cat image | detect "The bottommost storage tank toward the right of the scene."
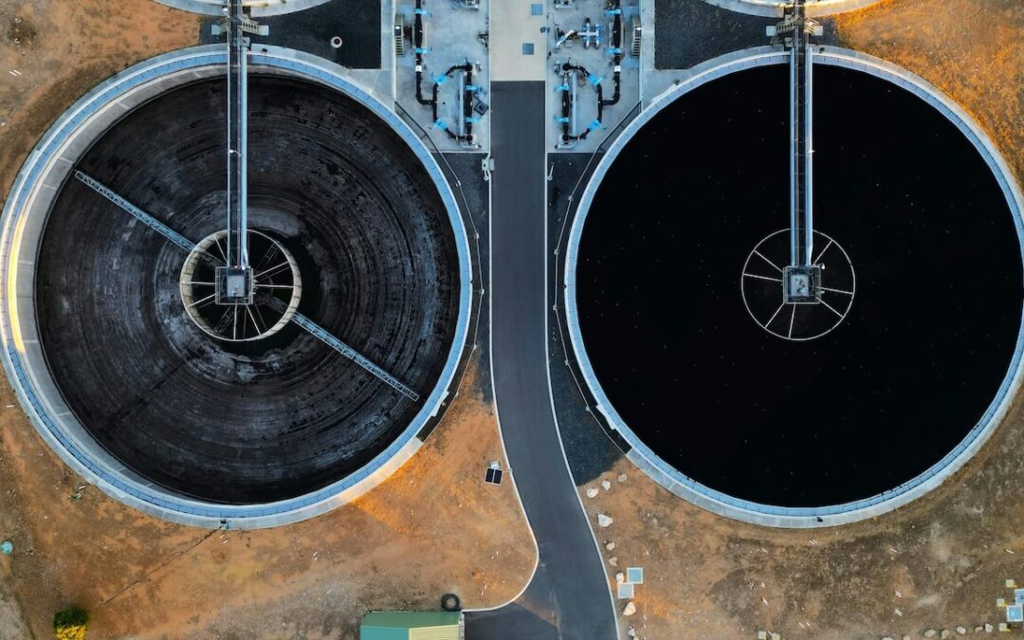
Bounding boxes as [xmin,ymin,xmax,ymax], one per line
[562,49,1024,522]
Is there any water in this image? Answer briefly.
Yes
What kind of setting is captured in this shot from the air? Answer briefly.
industrial area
